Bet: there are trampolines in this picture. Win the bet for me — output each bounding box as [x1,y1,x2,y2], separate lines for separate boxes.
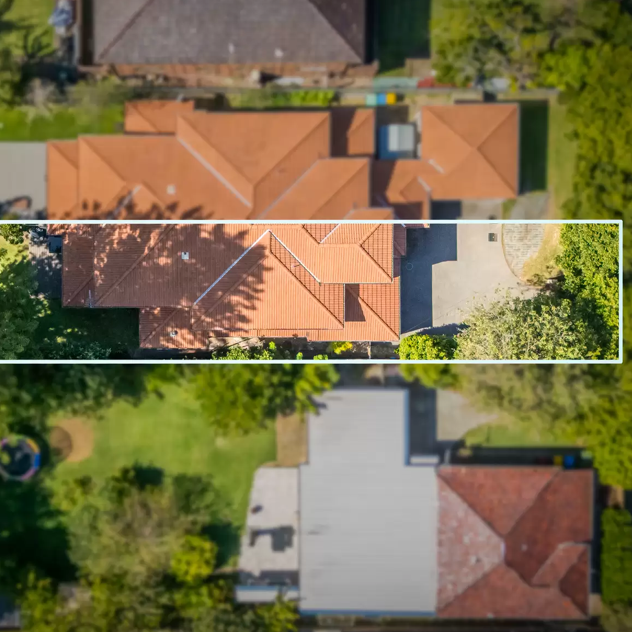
[0,436,40,486]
